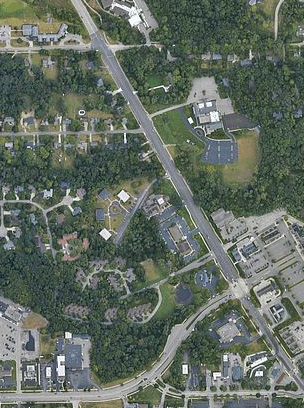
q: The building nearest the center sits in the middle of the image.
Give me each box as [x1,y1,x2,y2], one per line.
[144,190,167,218]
